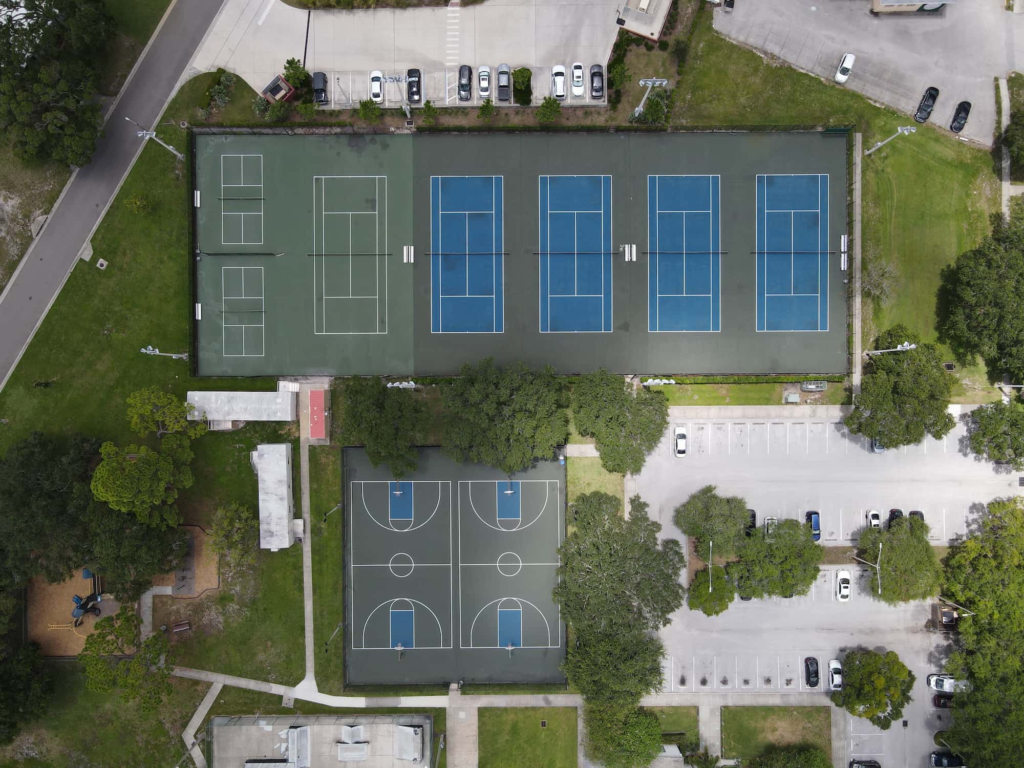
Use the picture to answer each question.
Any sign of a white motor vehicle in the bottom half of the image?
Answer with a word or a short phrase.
Yes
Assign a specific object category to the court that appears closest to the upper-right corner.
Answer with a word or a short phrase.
tennis court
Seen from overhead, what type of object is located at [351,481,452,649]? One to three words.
basketball court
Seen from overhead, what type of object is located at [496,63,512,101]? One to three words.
vehicle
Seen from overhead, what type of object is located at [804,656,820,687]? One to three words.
car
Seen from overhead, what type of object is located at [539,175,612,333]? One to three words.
tennis court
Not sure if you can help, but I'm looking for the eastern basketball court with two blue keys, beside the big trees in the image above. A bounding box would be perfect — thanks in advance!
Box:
[459,480,560,648]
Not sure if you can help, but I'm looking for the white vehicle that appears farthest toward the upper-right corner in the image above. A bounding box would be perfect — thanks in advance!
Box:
[833,50,857,87]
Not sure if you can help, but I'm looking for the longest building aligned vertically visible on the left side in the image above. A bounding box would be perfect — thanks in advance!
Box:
[254,444,305,550]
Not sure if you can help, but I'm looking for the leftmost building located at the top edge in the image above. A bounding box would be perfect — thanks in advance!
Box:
[619,0,673,43]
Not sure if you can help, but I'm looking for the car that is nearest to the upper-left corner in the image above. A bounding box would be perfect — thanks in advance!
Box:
[313,68,328,105]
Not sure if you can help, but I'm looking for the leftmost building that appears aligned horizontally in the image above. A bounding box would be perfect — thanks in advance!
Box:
[187,380,306,428]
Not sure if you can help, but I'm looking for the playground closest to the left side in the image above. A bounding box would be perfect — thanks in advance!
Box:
[29,567,137,657]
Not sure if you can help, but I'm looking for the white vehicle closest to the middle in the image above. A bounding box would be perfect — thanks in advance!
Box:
[673,426,688,458]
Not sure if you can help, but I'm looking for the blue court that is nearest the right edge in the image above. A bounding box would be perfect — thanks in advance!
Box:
[756,174,829,331]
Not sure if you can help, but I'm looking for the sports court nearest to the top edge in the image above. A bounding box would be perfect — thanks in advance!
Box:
[222,155,263,244]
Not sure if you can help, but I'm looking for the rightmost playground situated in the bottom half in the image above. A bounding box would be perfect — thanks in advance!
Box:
[152,526,219,599]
